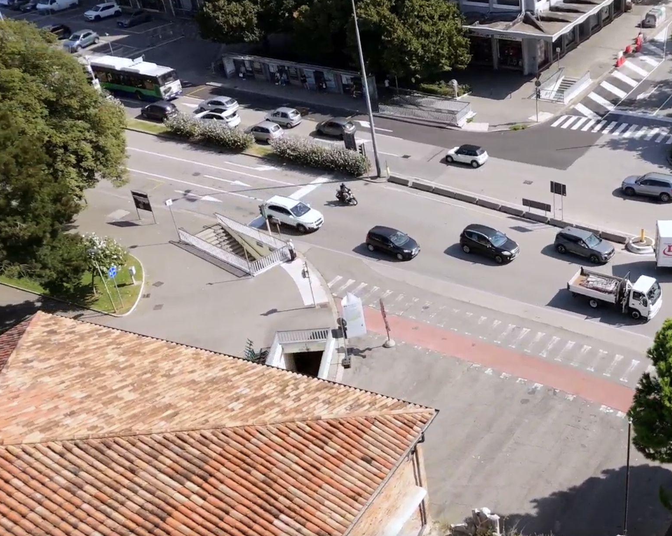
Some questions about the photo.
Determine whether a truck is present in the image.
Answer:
Yes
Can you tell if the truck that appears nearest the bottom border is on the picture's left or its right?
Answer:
right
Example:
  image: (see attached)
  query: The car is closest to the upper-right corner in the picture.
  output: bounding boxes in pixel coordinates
[619,168,672,202]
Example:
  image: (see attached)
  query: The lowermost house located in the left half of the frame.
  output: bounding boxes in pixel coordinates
[0,307,445,536]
